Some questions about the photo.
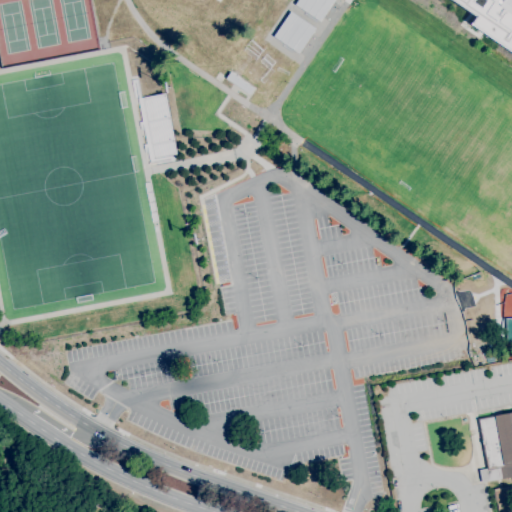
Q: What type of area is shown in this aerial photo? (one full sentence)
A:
This looks like a sports ground.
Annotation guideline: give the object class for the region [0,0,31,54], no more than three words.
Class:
tennis court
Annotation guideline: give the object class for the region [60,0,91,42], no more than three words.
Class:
tennis court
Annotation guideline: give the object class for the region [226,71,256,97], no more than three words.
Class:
shed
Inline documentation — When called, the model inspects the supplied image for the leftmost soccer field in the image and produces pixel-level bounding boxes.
[0,50,166,320]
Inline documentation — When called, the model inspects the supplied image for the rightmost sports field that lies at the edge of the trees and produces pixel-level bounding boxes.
[284,0,512,274]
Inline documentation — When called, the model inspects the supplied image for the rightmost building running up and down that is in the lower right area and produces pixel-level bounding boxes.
[480,413,512,482]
